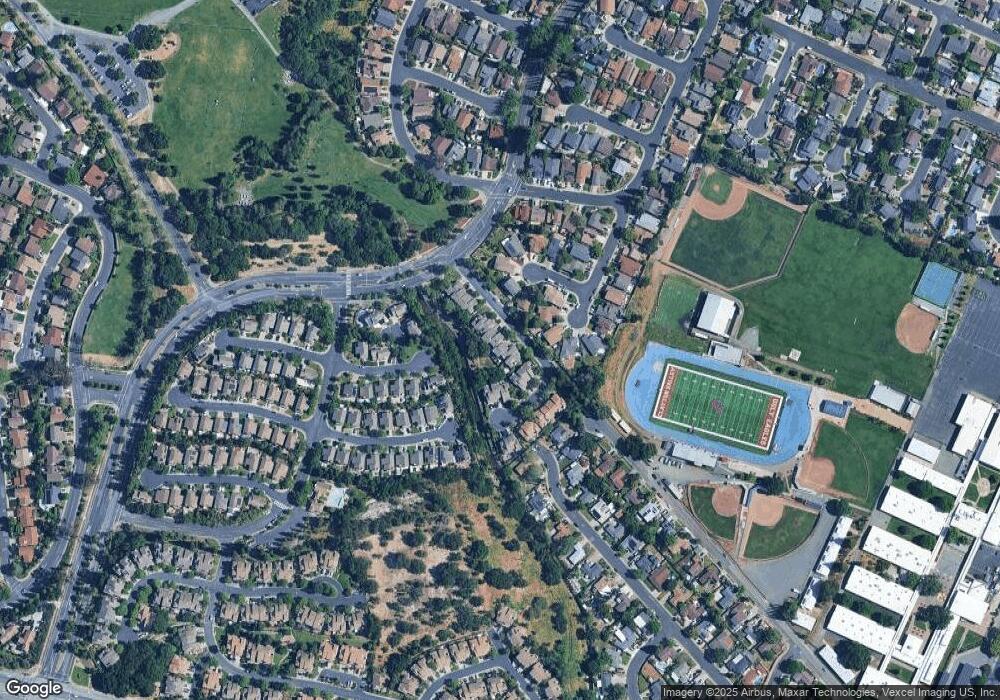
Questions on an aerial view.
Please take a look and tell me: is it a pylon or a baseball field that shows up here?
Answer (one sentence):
The image shows a baseball field.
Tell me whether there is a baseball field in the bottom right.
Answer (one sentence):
Yes, you'll find a baseball field in the bottom right.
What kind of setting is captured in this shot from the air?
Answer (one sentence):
The area seen from above is a residential area.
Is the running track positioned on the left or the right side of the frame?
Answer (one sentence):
The running track is on the right side of the image.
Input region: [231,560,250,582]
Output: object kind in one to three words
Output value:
house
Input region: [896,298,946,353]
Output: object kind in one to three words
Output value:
baseball field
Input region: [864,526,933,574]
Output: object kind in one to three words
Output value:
building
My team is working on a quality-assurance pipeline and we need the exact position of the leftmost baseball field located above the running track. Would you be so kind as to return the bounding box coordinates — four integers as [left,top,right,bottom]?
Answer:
[658,162,809,292]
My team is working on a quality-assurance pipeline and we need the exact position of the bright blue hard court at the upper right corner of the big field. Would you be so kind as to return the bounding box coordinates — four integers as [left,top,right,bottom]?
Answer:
[913,262,962,308]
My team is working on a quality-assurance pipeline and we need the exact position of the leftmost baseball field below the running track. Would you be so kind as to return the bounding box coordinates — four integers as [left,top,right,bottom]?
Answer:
[688,483,744,548]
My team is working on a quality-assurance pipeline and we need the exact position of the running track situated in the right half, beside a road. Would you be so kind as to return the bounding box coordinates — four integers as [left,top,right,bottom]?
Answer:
[625,341,812,465]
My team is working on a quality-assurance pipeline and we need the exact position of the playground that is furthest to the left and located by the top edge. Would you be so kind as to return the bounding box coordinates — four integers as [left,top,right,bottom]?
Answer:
[140,32,182,61]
